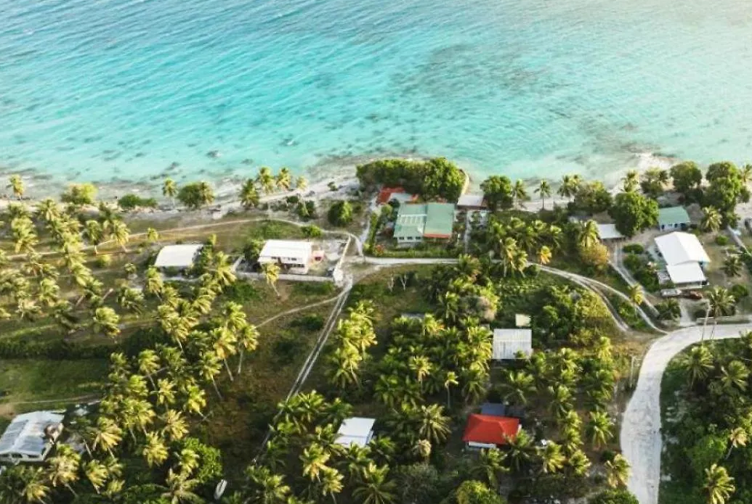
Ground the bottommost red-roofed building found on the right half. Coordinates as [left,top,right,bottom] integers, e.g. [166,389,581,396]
[464,414,519,453]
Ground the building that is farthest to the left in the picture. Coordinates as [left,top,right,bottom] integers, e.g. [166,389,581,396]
[0,410,70,466]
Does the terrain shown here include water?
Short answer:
Yes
